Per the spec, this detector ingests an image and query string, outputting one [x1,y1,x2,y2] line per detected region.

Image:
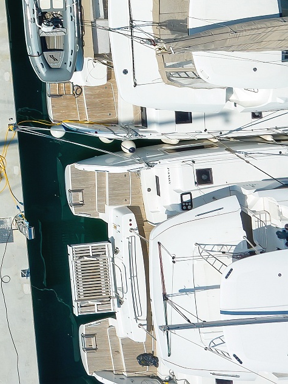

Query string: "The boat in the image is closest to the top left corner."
[23,0,104,83]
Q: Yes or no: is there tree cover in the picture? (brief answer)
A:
No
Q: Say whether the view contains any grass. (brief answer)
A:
No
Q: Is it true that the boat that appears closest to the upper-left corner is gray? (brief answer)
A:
Yes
